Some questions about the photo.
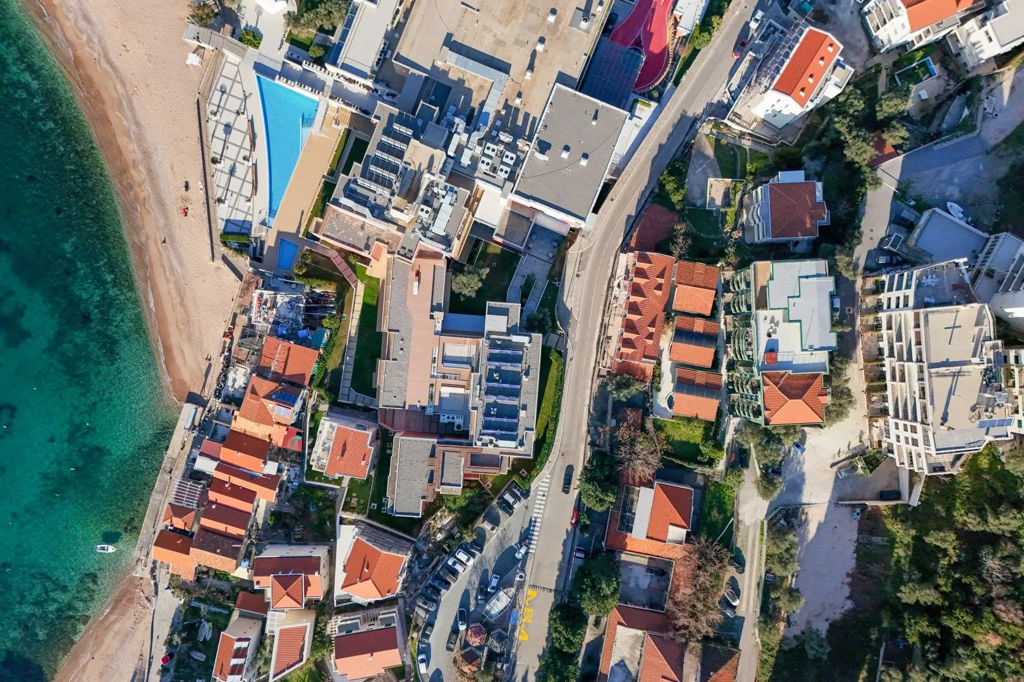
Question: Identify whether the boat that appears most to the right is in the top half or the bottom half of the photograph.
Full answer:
It is in the top half that the boat that appears most to the right appears.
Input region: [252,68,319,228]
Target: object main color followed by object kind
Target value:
blue swimming pool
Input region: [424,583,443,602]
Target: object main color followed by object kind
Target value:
black car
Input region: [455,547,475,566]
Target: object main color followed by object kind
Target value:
white car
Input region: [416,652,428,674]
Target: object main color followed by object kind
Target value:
white vehicle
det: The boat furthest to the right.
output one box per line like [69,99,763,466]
[947,202,971,222]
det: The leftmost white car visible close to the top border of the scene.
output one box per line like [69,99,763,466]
[746,9,764,30]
